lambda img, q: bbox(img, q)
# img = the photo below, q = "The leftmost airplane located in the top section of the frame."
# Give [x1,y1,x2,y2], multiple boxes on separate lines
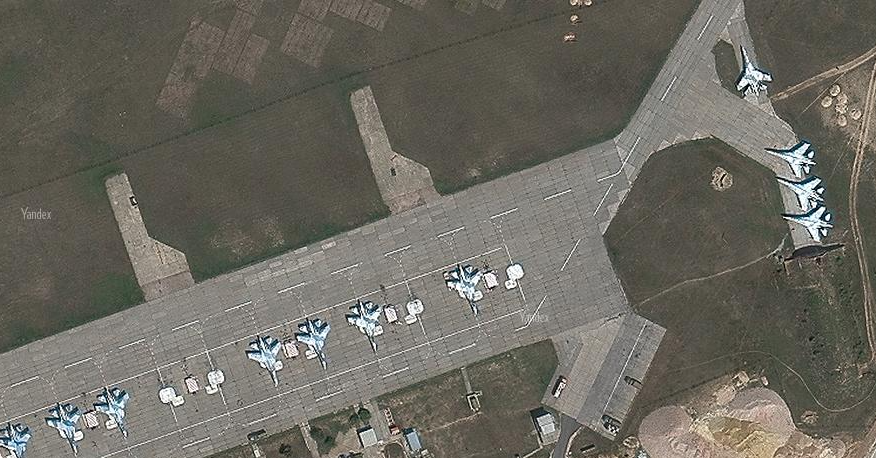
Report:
[735,46,772,99]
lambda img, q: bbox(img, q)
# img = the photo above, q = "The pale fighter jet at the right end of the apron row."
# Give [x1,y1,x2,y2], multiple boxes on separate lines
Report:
[446,263,482,316]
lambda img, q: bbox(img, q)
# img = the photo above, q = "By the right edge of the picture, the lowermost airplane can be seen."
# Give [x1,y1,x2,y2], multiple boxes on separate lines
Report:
[780,205,835,241]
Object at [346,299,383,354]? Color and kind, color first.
white airplane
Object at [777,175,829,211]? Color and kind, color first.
white airplane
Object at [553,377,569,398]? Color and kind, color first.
white vehicle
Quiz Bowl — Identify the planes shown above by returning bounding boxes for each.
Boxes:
[735,46,772,99]
[777,175,829,211]
[94,385,130,438]
[780,205,835,241]
[45,402,82,455]
[0,420,32,458]
[294,316,331,369]
[246,333,282,386]
[763,140,819,177]
[446,263,482,316]
[346,299,383,354]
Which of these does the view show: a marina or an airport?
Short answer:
airport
